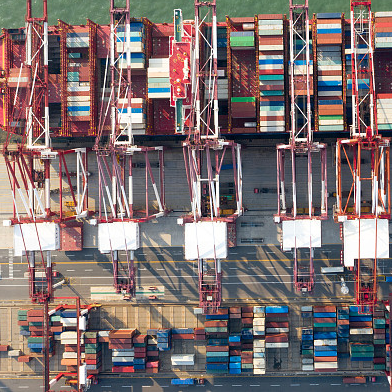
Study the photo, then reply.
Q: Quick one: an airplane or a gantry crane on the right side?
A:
gantry crane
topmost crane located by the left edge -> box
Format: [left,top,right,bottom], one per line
[0,0,109,308]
